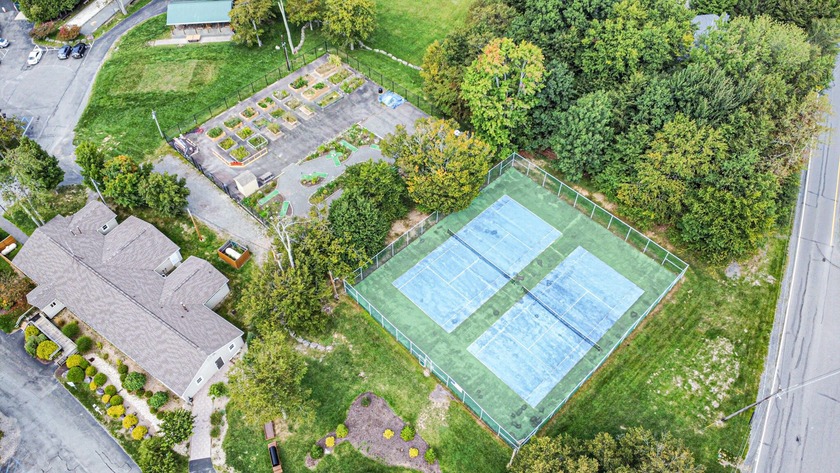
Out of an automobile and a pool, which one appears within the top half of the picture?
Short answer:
automobile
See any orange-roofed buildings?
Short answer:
No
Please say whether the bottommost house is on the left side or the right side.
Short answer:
left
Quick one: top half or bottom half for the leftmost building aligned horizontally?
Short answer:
top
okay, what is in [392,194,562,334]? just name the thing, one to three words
tennis court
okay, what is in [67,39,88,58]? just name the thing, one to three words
car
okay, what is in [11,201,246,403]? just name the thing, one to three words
house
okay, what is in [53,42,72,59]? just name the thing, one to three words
car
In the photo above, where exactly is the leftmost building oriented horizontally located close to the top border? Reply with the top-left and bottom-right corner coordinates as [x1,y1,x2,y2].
[167,0,239,33]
